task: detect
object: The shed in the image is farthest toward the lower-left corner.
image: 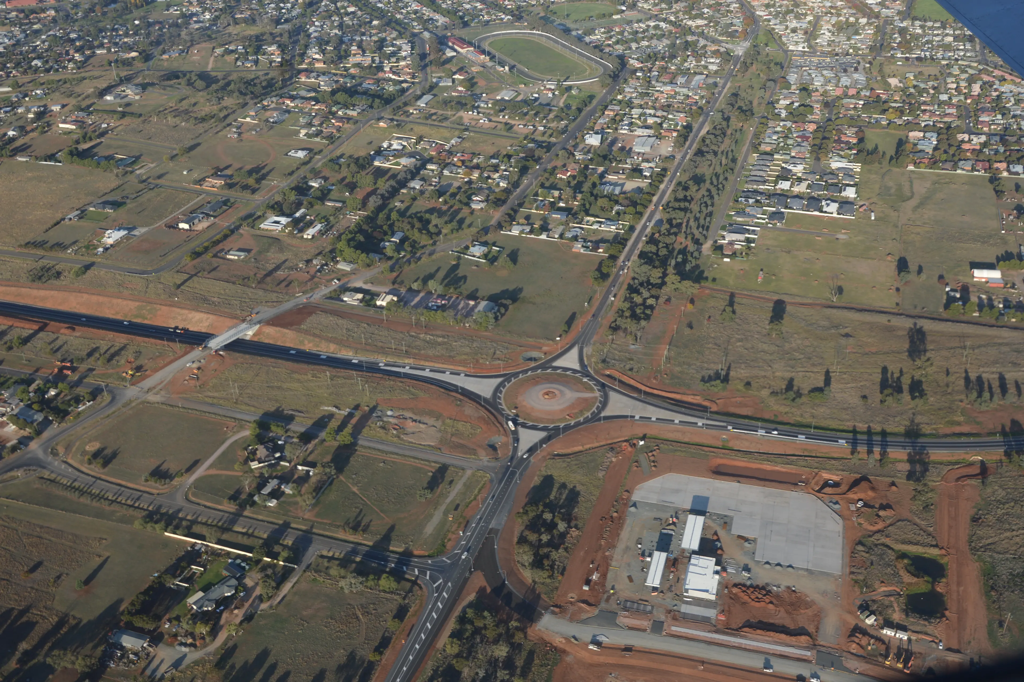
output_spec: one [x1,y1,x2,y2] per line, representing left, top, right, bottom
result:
[109,628,154,656]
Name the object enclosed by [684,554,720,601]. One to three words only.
building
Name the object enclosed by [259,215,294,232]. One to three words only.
house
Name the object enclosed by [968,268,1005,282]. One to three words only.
barn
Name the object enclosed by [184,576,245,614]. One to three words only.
house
